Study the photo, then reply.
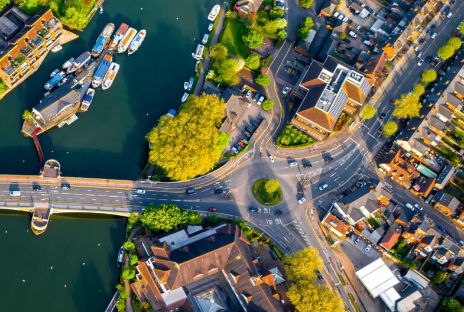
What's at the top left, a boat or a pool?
boat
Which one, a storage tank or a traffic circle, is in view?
traffic circle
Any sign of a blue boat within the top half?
Yes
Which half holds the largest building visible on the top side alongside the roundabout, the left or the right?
right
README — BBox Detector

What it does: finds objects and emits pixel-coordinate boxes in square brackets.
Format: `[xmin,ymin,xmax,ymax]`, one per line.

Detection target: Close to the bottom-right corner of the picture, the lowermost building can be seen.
[394,290,422,312]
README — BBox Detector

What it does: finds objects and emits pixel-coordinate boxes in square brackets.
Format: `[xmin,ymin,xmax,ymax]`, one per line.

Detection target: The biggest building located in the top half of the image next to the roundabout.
[289,59,372,145]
